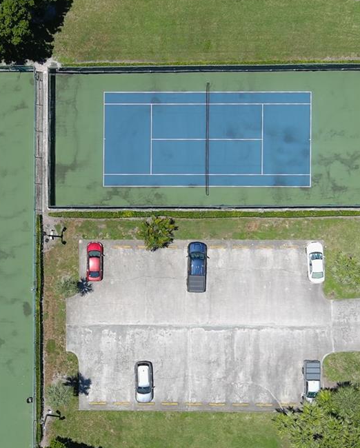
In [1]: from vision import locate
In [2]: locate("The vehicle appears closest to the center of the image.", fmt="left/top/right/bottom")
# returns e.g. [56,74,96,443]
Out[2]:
[188,242,209,293]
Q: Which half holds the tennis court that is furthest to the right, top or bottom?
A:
top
